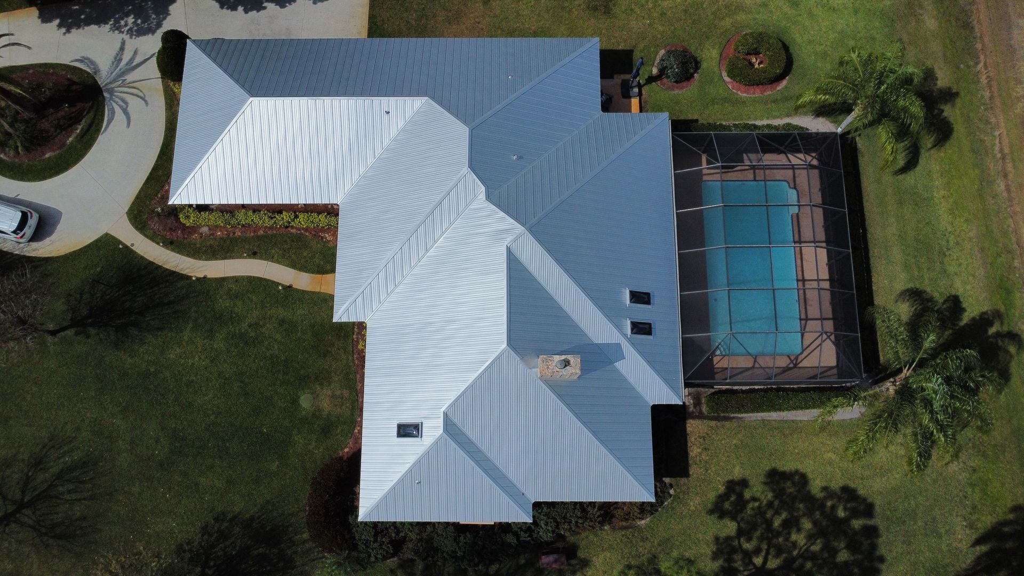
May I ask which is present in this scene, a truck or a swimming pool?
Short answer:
swimming pool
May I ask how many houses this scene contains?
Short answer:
one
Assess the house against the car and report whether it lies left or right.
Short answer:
on its right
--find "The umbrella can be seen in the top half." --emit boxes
[621,60,643,99]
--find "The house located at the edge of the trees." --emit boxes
[167,37,684,524]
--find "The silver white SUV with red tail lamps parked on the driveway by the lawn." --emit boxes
[0,204,41,245]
